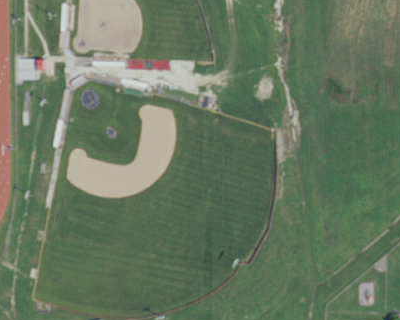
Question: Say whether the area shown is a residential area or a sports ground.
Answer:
sports ground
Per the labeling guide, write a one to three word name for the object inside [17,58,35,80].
building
